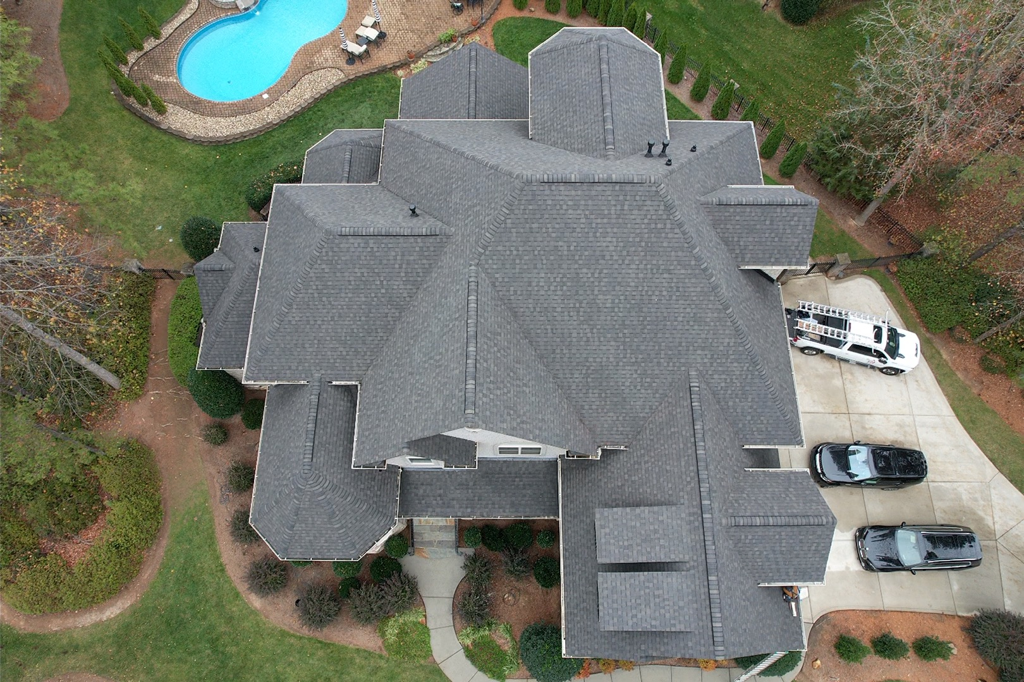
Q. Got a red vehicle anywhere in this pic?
No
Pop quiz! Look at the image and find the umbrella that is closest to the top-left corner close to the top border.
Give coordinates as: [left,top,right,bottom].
[340,26,356,64]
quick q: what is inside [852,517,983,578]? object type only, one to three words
car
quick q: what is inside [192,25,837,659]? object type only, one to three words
house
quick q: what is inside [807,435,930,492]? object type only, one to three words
car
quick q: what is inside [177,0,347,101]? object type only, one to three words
swimming pool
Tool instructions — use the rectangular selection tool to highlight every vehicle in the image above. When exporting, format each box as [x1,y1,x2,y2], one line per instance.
[852,517,983,578]
[807,435,930,492]
[776,296,918,376]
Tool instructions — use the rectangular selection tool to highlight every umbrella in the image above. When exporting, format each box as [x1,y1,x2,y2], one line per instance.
[340,26,356,64]
[374,0,387,40]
